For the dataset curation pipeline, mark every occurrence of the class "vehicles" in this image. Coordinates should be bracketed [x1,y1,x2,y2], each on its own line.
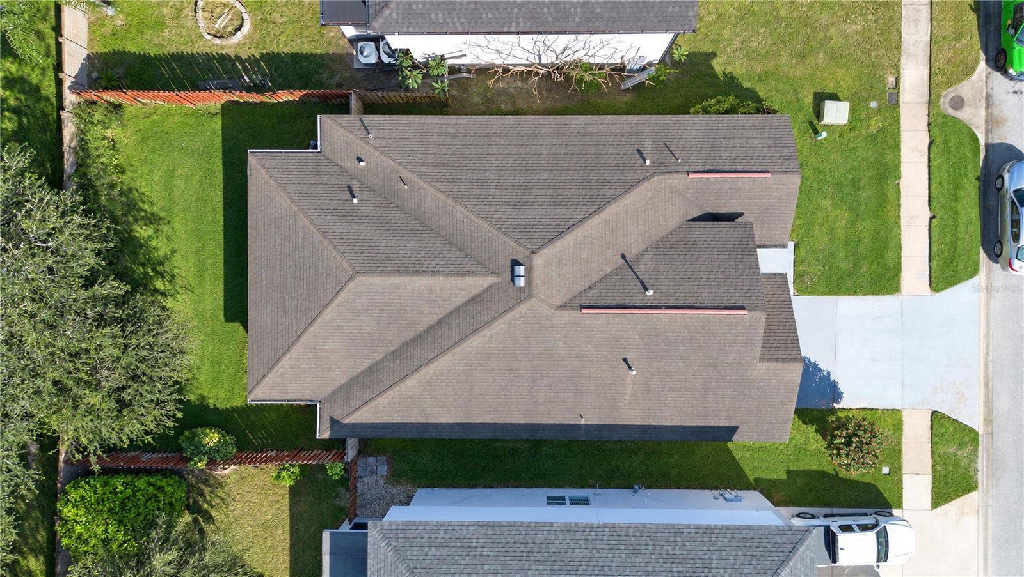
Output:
[993,159,1024,274]
[783,511,913,573]
[993,0,1024,82]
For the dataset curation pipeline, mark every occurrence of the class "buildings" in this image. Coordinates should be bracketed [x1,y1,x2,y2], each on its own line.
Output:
[320,481,819,577]
[246,112,802,442]
[318,0,699,64]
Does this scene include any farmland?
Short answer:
No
